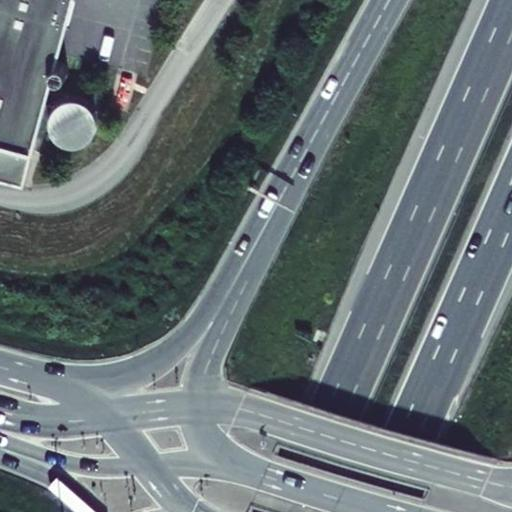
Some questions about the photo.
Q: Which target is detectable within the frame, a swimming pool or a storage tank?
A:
storage tank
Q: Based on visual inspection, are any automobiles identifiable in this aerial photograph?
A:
Yes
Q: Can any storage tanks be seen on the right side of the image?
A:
No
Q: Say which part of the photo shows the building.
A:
top left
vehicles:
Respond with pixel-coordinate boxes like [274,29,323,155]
[288,136,305,157]
[235,234,251,255]
[502,192,512,214]
[0,455,20,467]
[321,78,338,98]
[297,154,315,176]
[431,314,448,339]
[99,32,114,60]
[0,396,18,408]
[45,364,66,374]
[0,437,6,446]
[79,460,100,471]
[465,232,482,256]
[258,193,276,218]
[20,422,41,433]
[46,454,66,466]
[114,72,131,106]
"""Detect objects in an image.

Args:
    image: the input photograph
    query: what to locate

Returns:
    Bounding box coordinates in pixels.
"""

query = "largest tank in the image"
[48,98,100,150]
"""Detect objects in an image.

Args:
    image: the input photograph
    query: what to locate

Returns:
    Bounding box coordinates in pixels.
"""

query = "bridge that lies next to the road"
[218,380,512,512]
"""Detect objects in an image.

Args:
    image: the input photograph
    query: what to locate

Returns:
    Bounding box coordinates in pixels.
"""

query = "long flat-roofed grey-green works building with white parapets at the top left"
[0,0,76,190]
